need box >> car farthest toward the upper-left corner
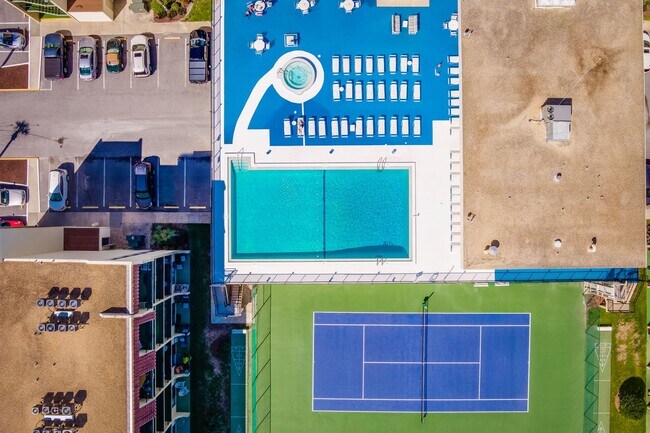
[0,27,22,49]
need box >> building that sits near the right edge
[458,0,646,270]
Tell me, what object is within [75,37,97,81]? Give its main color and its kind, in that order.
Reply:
gray car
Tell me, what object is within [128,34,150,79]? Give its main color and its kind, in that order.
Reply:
white car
